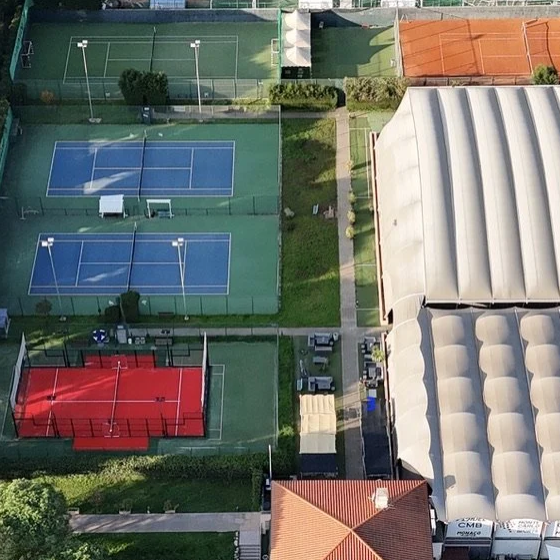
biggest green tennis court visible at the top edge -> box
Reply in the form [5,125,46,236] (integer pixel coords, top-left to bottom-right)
[13,22,281,93]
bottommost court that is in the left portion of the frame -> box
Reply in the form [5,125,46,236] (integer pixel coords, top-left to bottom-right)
[0,338,279,451]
